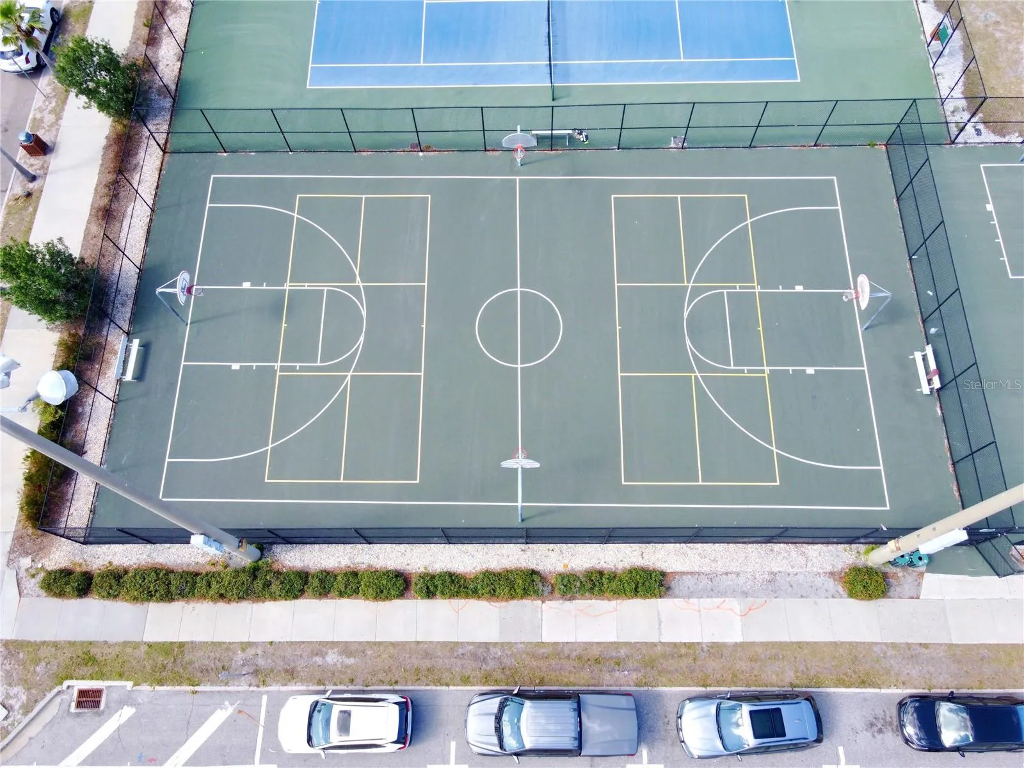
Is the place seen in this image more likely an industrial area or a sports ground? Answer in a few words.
sports ground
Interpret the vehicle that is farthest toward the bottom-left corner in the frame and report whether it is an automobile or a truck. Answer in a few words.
automobile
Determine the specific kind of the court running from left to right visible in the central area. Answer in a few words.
basketball court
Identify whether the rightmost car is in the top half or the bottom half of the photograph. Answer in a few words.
bottom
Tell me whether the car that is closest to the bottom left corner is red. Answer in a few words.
No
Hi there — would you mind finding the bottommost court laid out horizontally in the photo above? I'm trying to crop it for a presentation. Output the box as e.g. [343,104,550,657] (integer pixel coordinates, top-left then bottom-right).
[91,145,971,541]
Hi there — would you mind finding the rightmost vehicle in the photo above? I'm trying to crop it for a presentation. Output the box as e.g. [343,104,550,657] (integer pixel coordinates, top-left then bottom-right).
[892,688,1024,763]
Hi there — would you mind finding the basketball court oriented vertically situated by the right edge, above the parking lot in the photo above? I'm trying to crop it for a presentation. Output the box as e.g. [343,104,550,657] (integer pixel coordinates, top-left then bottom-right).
[889,142,1024,542]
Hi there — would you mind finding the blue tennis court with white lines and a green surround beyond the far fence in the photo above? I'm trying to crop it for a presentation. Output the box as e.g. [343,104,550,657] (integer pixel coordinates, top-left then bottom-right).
[166,0,950,153]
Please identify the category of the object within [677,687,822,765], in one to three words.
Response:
car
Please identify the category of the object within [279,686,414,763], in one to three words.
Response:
car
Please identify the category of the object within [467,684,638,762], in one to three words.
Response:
truck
